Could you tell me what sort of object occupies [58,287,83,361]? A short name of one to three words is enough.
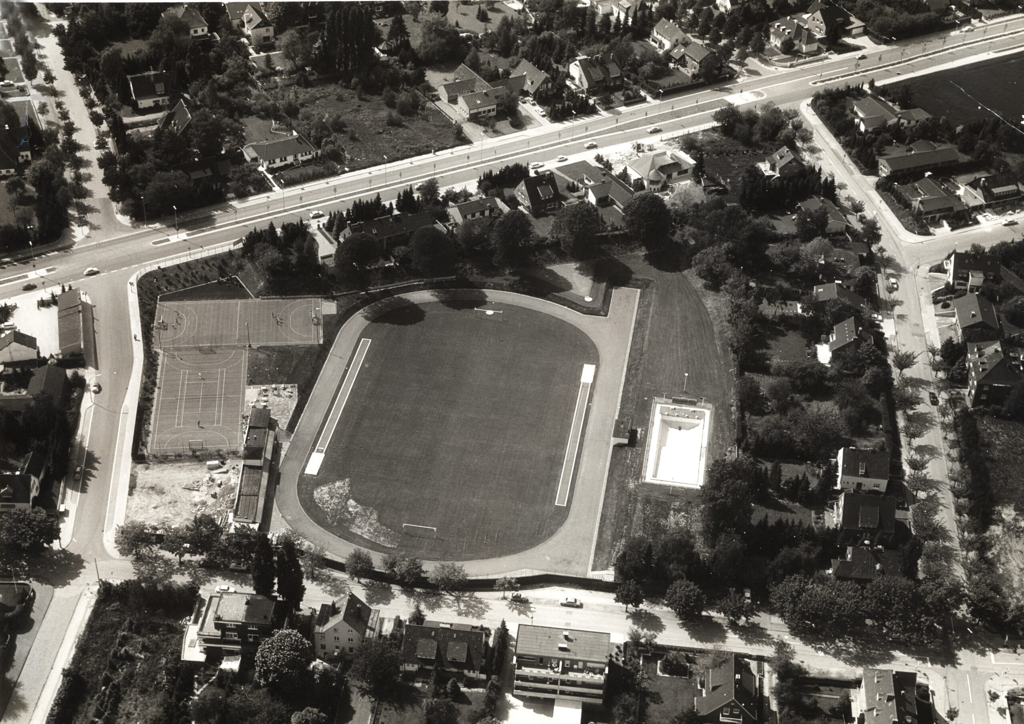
building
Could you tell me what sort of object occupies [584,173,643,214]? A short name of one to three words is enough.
house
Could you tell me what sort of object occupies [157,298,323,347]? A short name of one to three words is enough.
sports court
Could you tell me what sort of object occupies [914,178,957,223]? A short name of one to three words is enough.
house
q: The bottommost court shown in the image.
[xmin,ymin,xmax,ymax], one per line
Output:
[151,346,248,452]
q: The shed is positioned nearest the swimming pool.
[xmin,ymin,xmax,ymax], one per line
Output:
[613,419,631,447]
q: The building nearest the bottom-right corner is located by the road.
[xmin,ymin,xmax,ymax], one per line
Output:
[863,667,918,724]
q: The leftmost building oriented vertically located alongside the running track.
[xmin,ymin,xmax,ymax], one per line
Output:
[234,408,278,531]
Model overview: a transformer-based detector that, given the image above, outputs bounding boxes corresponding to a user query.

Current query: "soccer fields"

[297,300,600,561]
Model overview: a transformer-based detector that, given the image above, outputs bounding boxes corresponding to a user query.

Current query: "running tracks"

[275,287,640,579]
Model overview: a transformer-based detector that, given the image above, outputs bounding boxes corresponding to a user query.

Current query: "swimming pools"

[642,397,712,490]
